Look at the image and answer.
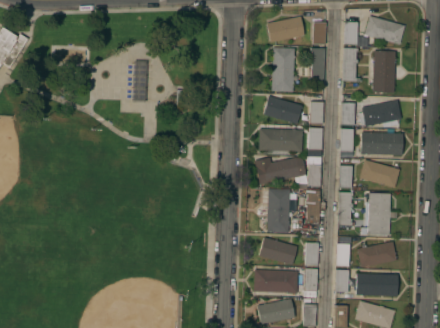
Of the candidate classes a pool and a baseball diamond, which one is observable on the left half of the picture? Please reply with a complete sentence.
There is a baseball diamond on the left half of the picture.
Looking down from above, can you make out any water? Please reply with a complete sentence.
No, the scene doesn't show any water.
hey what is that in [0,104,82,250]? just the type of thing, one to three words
baseball field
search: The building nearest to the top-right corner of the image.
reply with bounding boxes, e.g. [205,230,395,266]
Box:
[366,16,406,46]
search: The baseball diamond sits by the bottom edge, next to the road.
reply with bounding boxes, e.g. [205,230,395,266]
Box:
[34,210,199,328]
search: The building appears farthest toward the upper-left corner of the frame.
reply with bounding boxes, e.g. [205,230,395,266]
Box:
[0,28,28,66]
